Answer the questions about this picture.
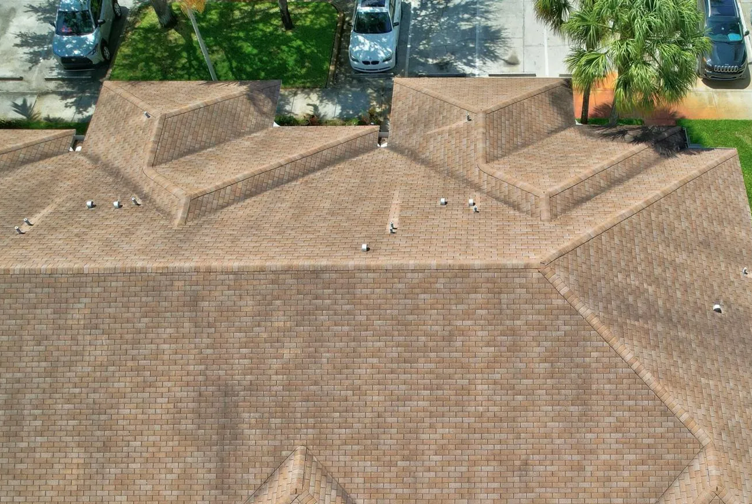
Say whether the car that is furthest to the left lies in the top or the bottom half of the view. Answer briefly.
top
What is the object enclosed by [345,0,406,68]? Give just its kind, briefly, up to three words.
car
